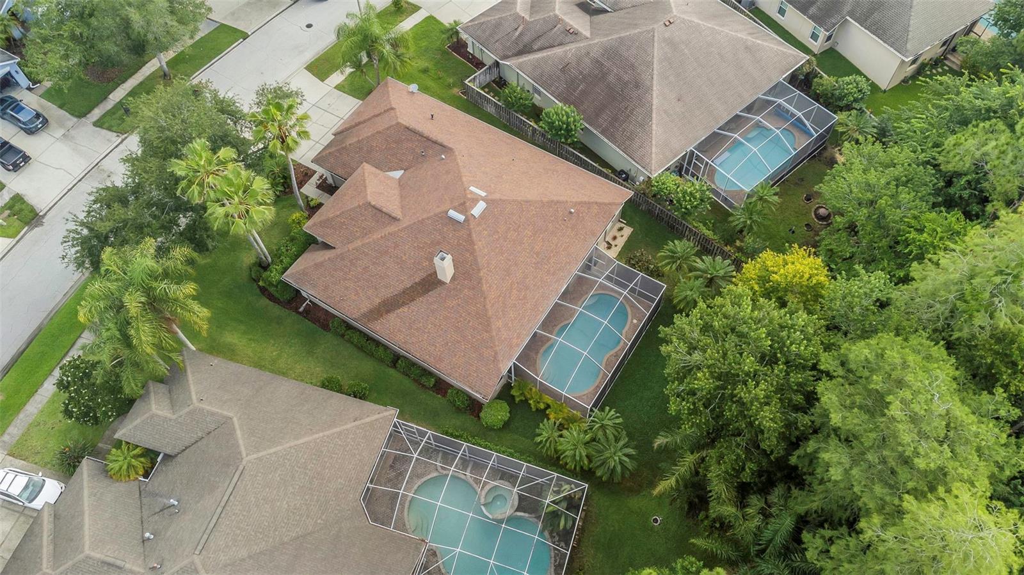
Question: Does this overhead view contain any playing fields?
No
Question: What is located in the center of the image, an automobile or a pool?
pool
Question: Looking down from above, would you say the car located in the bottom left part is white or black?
white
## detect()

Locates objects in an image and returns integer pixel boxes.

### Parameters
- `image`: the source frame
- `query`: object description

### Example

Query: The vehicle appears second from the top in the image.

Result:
[0,135,34,172]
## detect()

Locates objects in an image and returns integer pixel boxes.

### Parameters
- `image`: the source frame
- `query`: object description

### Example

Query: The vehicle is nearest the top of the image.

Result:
[0,101,48,135]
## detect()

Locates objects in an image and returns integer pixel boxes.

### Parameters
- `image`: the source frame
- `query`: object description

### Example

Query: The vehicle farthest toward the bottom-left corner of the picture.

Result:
[0,460,64,504]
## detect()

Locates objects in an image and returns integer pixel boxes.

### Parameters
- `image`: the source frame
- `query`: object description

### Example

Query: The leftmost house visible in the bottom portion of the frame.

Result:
[0,347,426,575]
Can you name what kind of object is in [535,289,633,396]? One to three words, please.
swimming pool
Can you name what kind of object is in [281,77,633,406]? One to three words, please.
house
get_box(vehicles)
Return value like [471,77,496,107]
[0,460,64,504]
[0,135,34,172]
[0,101,48,135]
